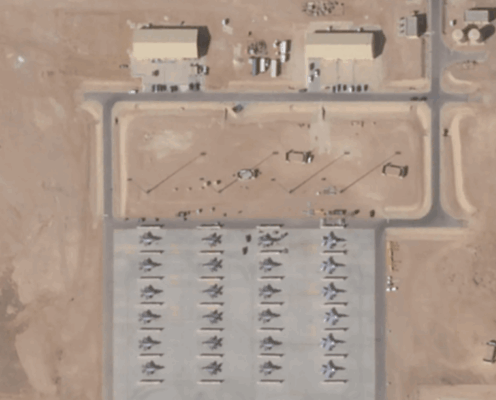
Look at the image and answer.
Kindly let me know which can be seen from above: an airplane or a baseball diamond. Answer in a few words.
airplane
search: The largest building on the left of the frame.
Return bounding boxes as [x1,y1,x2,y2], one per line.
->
[131,28,200,61]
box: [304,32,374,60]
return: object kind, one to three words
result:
hangar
